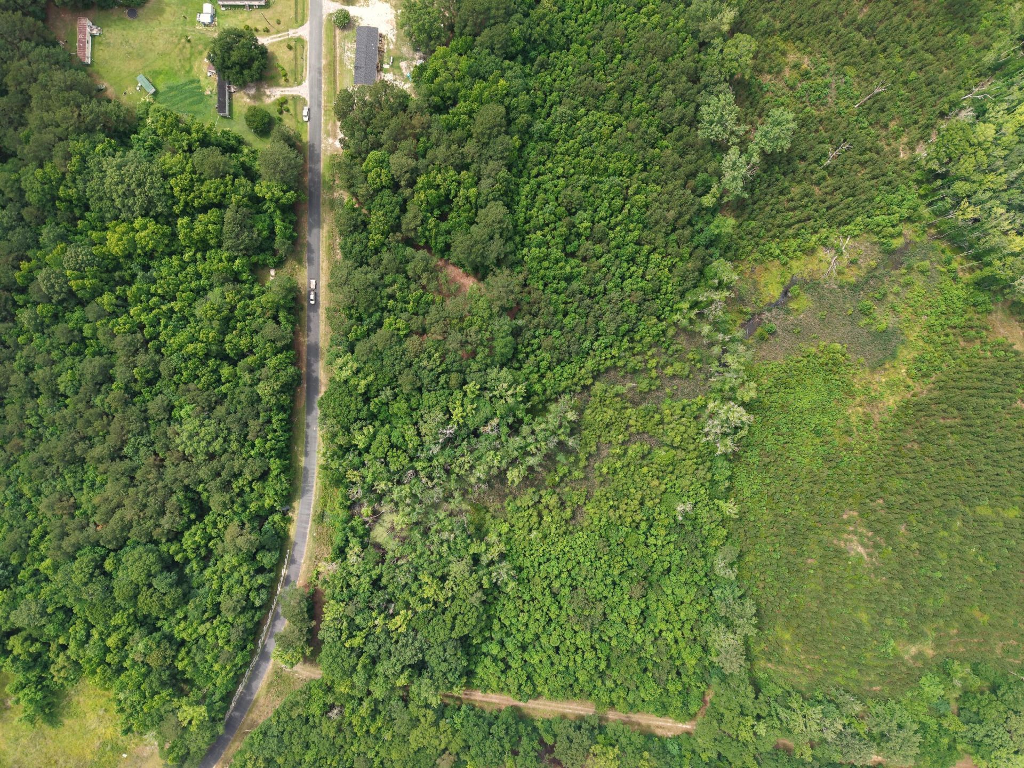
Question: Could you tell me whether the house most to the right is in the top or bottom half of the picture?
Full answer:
The house most to the right is in the top half of the image.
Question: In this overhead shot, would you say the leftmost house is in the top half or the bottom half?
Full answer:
The leftmost house sits in the top half of the picture.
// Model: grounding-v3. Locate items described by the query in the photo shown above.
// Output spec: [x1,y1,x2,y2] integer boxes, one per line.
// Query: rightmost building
[354,25,385,88]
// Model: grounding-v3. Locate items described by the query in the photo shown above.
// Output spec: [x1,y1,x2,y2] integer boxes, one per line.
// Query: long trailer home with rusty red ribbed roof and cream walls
[77,17,103,65]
